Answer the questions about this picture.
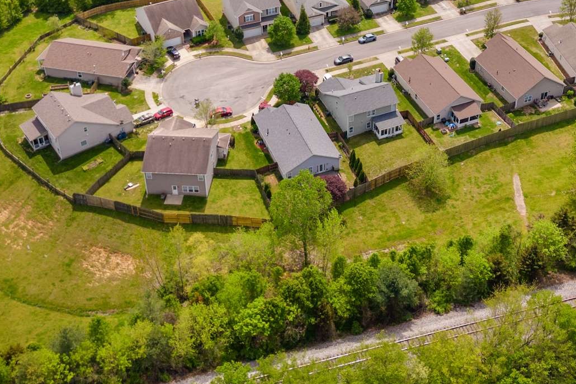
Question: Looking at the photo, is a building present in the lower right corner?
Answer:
No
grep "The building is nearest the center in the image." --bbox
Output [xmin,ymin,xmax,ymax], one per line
[249,93,340,182]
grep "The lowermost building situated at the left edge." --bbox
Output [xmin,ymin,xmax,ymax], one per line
[26,79,135,162]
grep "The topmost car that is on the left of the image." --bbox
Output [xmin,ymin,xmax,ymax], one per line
[167,43,179,57]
